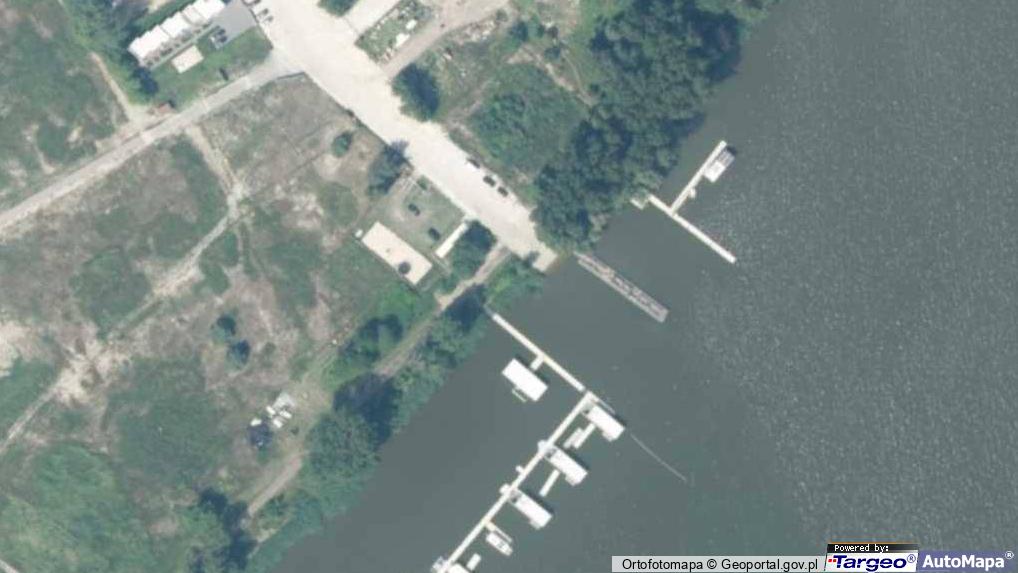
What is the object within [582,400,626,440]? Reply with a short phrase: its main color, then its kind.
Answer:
white boat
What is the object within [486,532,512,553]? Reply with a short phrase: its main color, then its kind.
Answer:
white boat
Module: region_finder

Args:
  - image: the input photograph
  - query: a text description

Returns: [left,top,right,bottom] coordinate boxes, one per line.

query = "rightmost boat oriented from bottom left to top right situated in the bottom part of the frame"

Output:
[564,429,582,449]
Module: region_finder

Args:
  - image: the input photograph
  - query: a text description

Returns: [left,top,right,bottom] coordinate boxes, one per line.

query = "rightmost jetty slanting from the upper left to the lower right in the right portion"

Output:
[649,195,735,263]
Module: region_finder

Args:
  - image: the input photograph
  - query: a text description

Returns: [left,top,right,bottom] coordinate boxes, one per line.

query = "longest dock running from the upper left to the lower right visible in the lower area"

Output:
[493,314,585,391]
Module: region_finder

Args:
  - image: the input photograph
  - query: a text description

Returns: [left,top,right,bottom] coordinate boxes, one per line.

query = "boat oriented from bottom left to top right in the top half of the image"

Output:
[704,149,735,182]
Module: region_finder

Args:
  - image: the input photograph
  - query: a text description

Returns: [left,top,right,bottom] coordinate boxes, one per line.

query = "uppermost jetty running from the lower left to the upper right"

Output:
[672,142,725,212]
